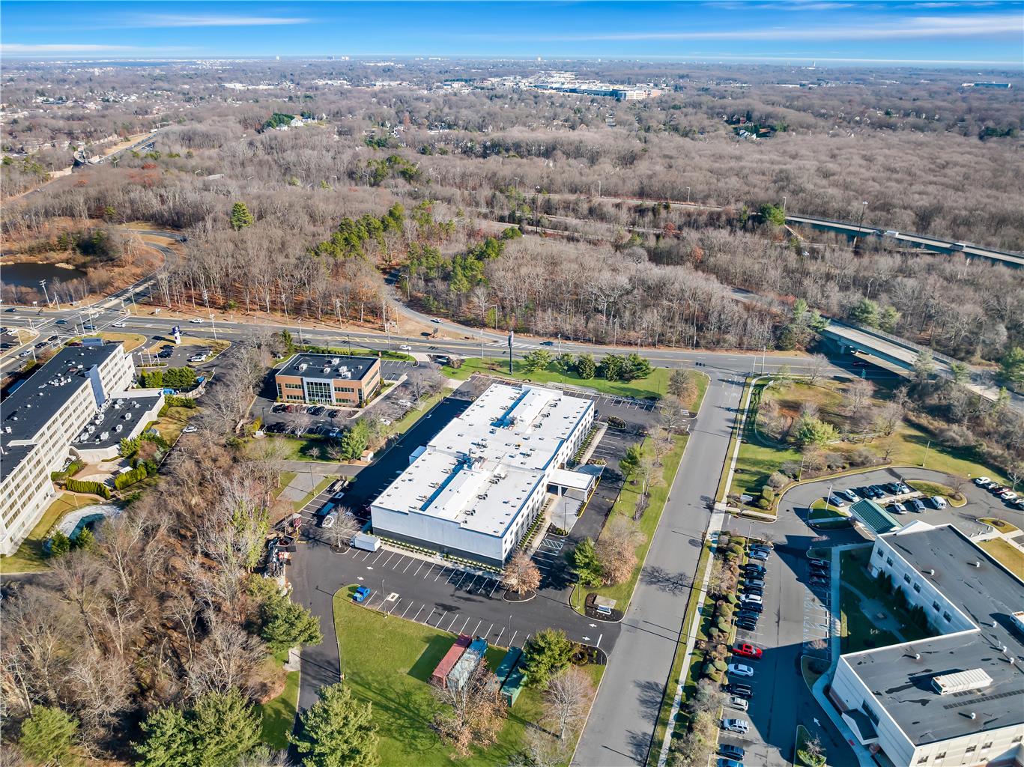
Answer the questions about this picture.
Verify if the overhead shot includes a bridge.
Yes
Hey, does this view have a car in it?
Yes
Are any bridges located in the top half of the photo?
Yes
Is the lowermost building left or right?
right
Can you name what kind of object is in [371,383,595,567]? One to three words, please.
building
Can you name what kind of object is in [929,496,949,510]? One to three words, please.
vehicle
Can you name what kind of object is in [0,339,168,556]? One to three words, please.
building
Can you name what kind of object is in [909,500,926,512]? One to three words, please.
vehicle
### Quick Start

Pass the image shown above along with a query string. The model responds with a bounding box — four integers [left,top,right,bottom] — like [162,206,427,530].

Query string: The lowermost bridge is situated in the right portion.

[815,316,973,380]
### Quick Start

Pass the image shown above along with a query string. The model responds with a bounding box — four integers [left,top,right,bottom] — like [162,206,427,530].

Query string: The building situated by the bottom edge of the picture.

[831,512,1024,767]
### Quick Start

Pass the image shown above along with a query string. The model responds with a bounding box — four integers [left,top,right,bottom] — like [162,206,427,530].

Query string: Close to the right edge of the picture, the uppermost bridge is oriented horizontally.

[781,215,1024,271]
